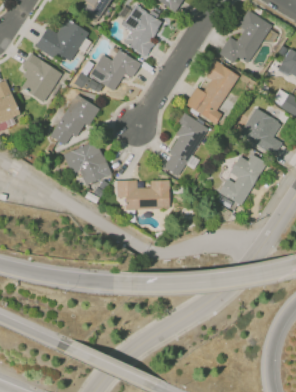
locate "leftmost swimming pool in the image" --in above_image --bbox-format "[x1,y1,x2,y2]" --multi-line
[62,56,82,72]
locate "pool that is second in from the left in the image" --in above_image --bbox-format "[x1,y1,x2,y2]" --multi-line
[93,39,111,60]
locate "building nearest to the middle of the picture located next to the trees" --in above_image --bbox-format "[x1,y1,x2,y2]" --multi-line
[118,180,172,210]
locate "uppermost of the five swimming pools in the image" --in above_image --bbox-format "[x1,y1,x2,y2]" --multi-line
[111,22,124,41]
